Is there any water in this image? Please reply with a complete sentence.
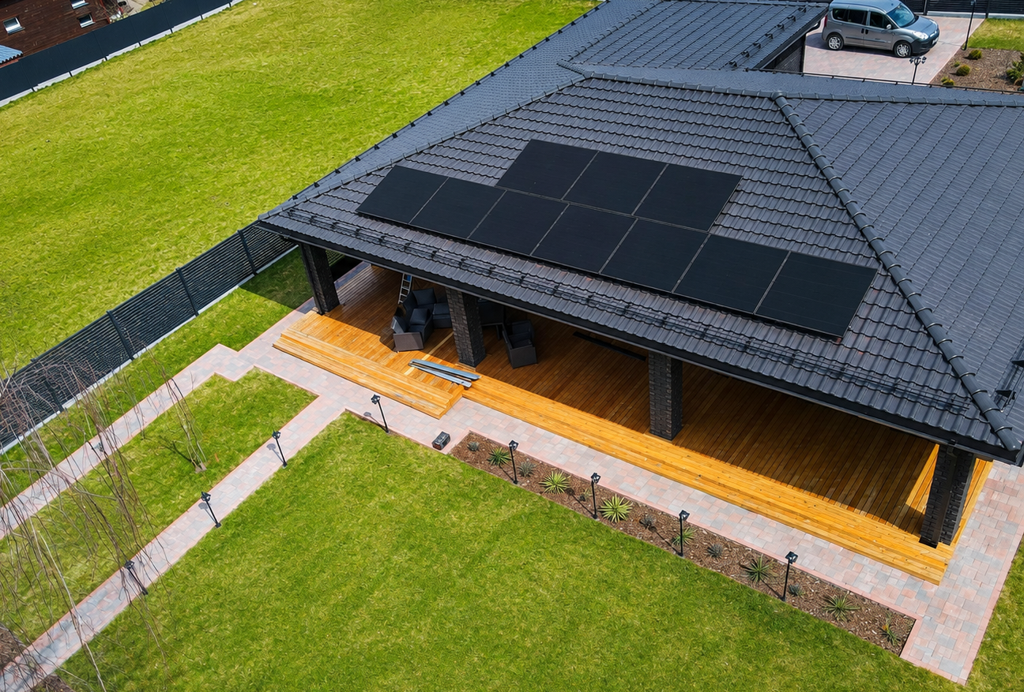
No, there's no water in this view.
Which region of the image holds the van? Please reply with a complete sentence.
The van appears toward the top right of the photo.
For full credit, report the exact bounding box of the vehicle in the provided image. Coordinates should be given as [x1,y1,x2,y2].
[816,0,942,56]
